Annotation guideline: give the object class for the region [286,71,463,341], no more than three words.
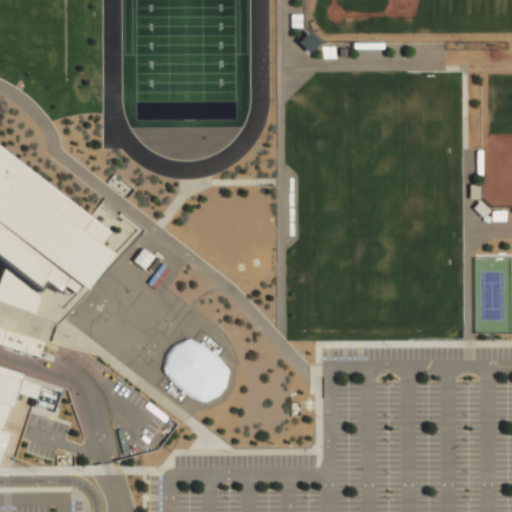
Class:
sports field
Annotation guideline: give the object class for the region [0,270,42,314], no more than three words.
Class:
building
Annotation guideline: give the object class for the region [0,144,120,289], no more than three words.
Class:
building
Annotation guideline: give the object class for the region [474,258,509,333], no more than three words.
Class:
tennis court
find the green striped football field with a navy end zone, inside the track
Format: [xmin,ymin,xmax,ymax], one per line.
[124,0,249,128]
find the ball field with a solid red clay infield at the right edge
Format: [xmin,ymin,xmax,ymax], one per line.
[484,74,512,206]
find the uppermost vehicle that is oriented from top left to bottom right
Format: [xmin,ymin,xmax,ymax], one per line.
[144,401,170,424]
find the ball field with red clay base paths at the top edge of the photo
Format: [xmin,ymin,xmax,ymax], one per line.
[316,0,512,34]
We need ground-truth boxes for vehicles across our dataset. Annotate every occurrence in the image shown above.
[144,401,170,424]
[112,383,120,392]
[123,389,131,398]
[139,430,150,444]
[118,386,126,396]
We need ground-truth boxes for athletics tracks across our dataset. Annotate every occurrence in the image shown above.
[104,0,269,180]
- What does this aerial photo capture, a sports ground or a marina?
sports ground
